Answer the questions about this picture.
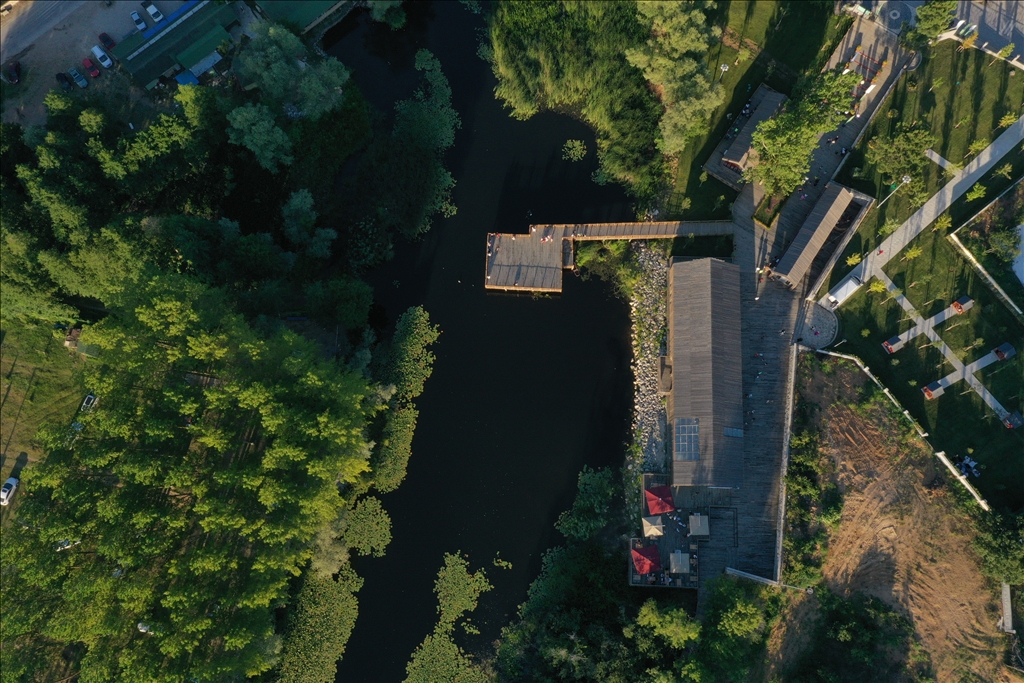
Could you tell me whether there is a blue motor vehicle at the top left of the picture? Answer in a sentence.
Yes, a blue motor vehicle shows up at the top left of the picture.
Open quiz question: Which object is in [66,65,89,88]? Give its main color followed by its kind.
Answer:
blue car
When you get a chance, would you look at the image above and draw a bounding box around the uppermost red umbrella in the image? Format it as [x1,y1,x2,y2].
[643,483,675,515]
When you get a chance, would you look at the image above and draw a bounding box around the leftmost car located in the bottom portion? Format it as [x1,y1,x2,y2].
[0,475,23,505]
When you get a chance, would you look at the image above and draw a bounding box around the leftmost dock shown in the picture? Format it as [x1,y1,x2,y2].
[486,224,573,294]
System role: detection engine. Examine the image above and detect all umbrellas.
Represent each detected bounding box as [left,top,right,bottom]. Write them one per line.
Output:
[639,514,666,537]
[643,483,675,515]
[686,509,709,537]
[632,545,664,577]
[668,545,691,574]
